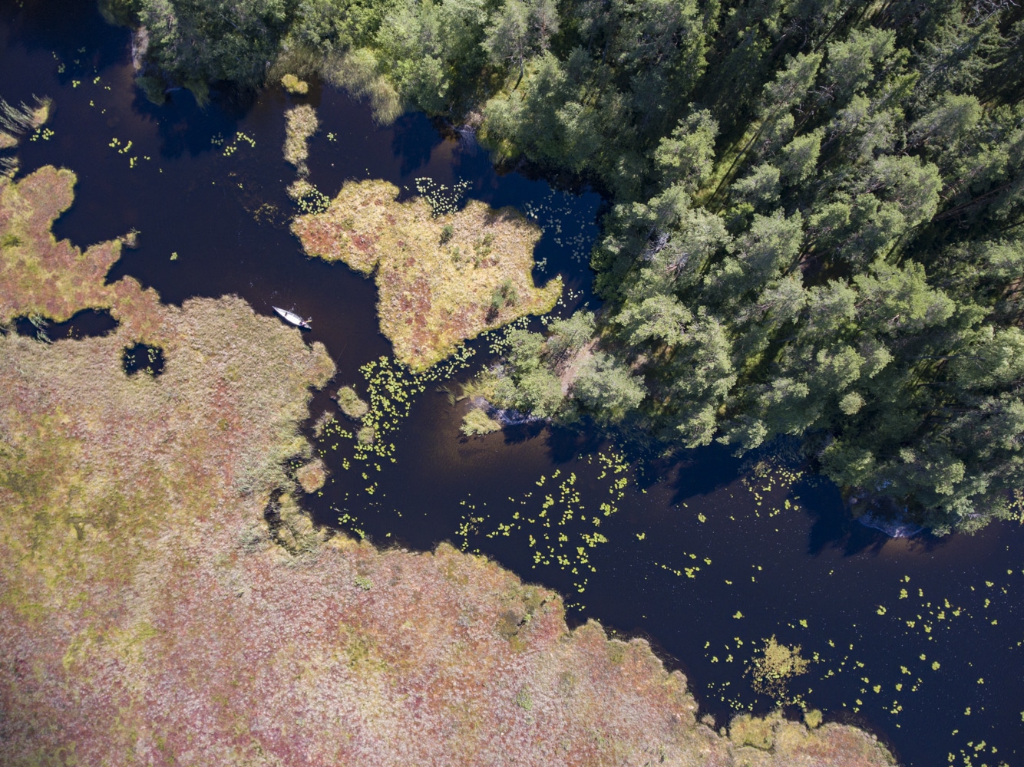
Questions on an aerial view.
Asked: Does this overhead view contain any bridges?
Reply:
No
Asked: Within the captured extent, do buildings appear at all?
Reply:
No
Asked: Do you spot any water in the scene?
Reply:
Yes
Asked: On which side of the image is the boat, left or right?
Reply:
left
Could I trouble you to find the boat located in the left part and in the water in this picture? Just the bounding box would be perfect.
[271,306,311,329]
